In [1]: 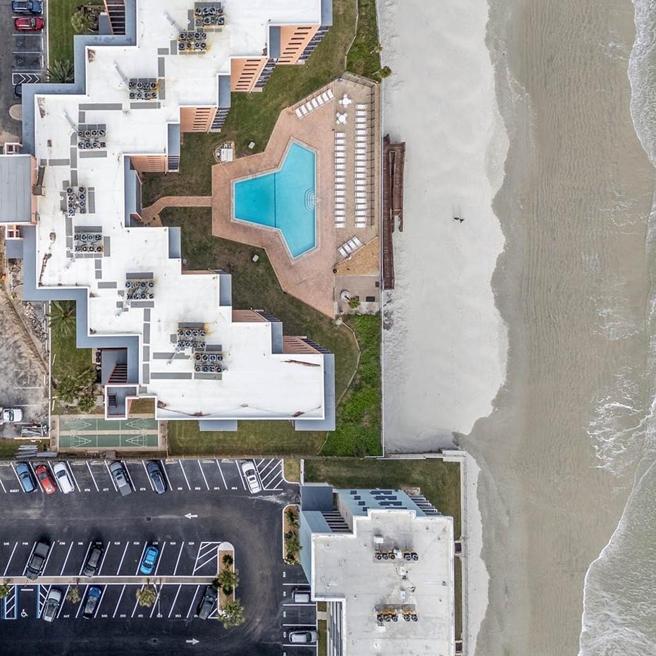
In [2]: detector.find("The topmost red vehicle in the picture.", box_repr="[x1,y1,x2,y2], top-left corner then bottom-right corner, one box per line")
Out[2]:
[15,17,45,31]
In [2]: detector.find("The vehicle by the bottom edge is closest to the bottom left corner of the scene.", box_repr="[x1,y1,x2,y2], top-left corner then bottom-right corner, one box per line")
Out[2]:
[42,586,64,624]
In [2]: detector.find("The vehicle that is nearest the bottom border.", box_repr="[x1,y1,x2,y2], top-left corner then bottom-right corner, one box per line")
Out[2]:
[288,628,317,644]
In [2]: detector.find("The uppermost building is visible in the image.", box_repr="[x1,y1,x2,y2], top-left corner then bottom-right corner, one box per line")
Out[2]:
[0,0,335,430]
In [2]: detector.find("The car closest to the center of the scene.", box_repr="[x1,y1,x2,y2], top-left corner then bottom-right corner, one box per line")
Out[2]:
[241,459,262,495]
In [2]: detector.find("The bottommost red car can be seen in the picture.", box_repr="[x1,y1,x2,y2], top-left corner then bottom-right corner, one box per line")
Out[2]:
[35,463,57,495]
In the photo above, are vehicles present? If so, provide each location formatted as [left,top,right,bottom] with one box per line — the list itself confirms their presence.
[195,583,218,623]
[141,544,158,573]
[18,461,35,492]
[241,459,262,495]
[292,588,318,604]
[84,544,103,577]
[42,586,64,624]
[109,460,133,499]
[0,407,23,424]
[28,539,51,580]
[15,85,21,97]
[15,17,45,31]
[53,460,75,495]
[80,583,100,621]
[146,461,166,495]
[12,0,43,14]
[288,628,317,644]
[35,463,57,495]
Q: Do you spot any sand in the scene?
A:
Yes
